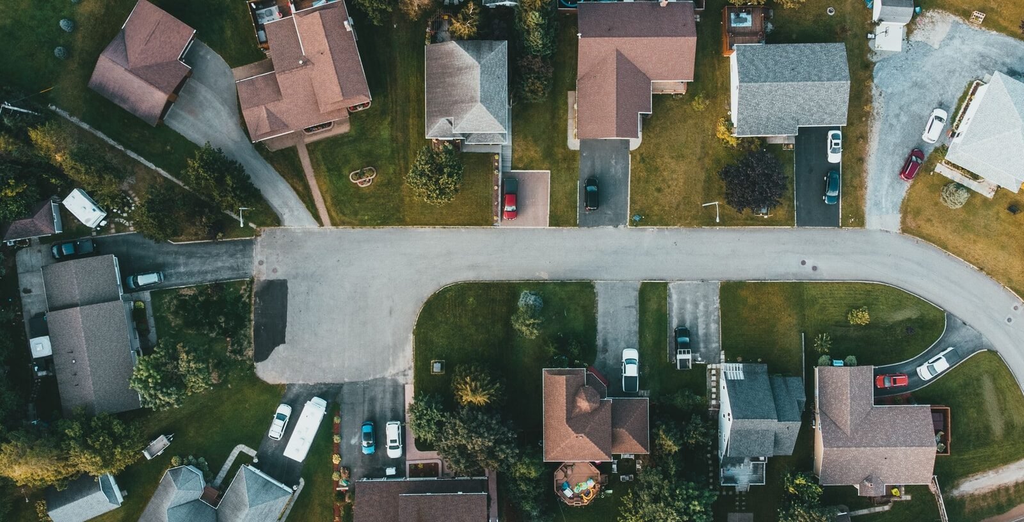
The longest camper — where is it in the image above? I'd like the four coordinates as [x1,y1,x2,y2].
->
[279,392,331,468]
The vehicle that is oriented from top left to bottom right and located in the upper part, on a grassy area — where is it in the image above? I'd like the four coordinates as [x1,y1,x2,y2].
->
[62,189,107,227]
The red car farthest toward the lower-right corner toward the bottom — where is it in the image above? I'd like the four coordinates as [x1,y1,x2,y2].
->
[875,373,908,390]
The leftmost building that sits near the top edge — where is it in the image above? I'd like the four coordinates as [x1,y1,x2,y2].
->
[87,0,197,127]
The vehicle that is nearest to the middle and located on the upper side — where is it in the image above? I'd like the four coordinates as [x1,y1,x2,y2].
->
[501,178,519,219]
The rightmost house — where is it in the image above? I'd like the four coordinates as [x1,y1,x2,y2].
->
[941,70,1024,195]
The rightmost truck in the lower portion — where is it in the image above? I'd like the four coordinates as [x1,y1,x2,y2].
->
[915,346,962,381]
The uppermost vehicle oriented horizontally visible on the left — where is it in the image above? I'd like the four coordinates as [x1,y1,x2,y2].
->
[51,239,95,258]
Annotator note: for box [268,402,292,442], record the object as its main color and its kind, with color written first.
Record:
white car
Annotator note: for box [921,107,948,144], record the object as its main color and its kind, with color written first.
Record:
white car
